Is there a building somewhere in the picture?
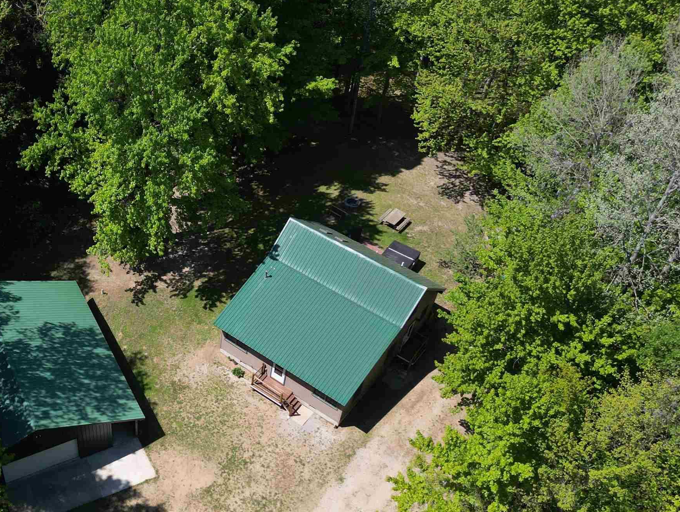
Yes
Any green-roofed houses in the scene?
Yes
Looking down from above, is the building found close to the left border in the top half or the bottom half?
bottom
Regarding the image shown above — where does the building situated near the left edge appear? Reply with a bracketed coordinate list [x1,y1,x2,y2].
[0,279,146,486]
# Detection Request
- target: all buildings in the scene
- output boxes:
[0,279,146,486]
[213,216,445,427]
